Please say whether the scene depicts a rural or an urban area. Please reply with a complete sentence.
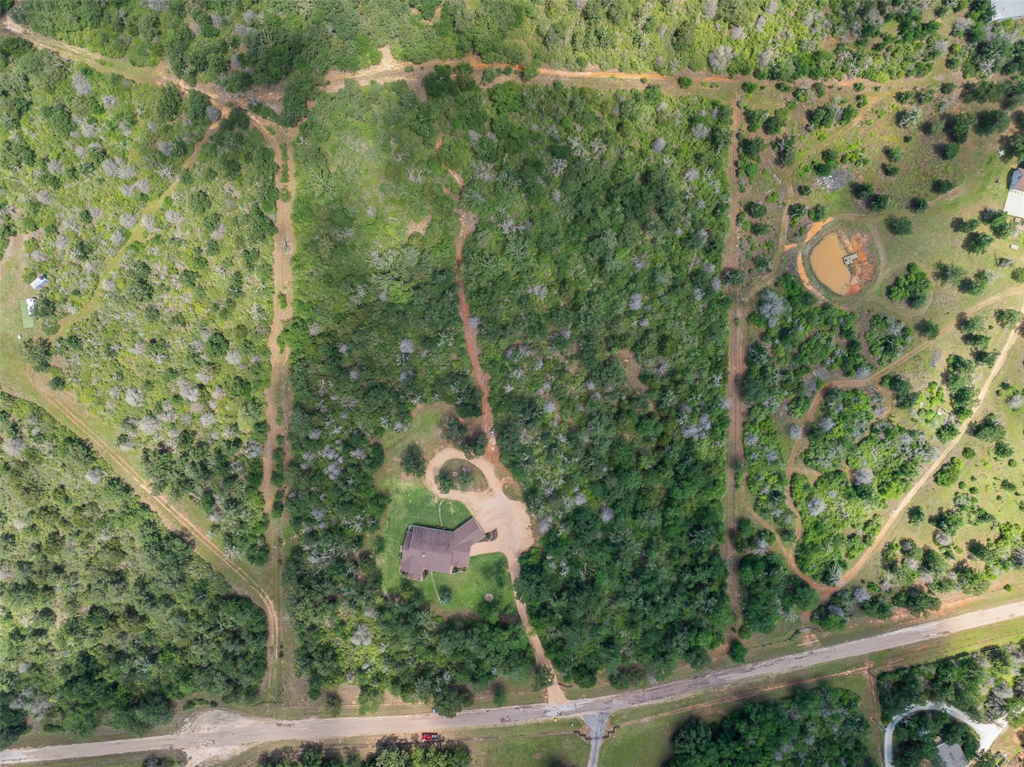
From above, the setting appears rural.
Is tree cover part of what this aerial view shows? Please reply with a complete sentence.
Yes, tree cover shows up in the scene.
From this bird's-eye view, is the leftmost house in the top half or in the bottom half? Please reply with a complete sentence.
You can find the leftmost house in the bottom half.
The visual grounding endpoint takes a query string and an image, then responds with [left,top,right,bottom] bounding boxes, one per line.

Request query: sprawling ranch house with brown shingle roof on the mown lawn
[399,518,486,577]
